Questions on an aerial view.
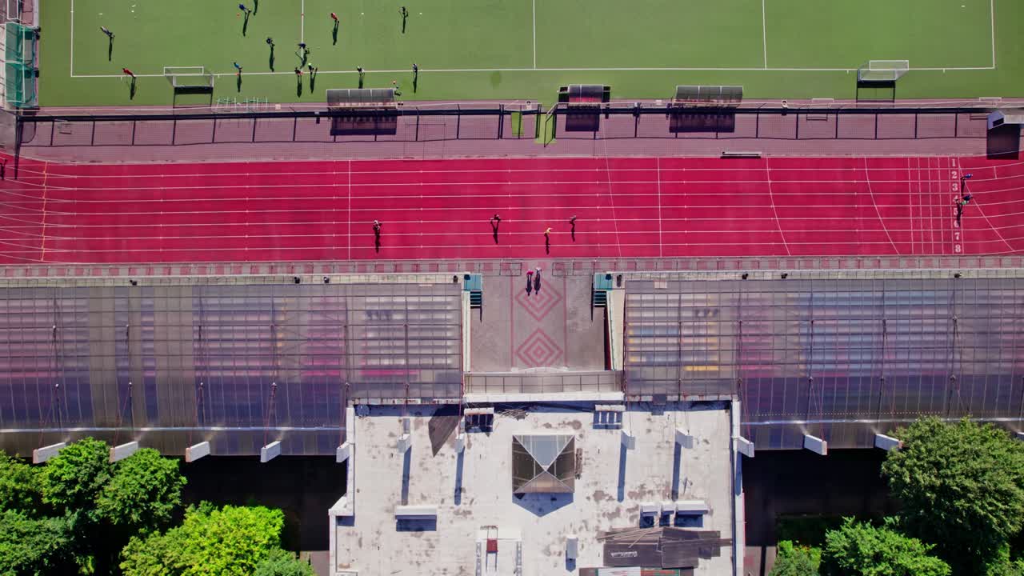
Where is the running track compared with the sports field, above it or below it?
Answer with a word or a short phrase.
below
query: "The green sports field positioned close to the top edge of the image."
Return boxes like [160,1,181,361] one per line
[34,0,1024,107]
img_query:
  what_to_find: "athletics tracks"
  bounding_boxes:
[0,144,1024,265]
